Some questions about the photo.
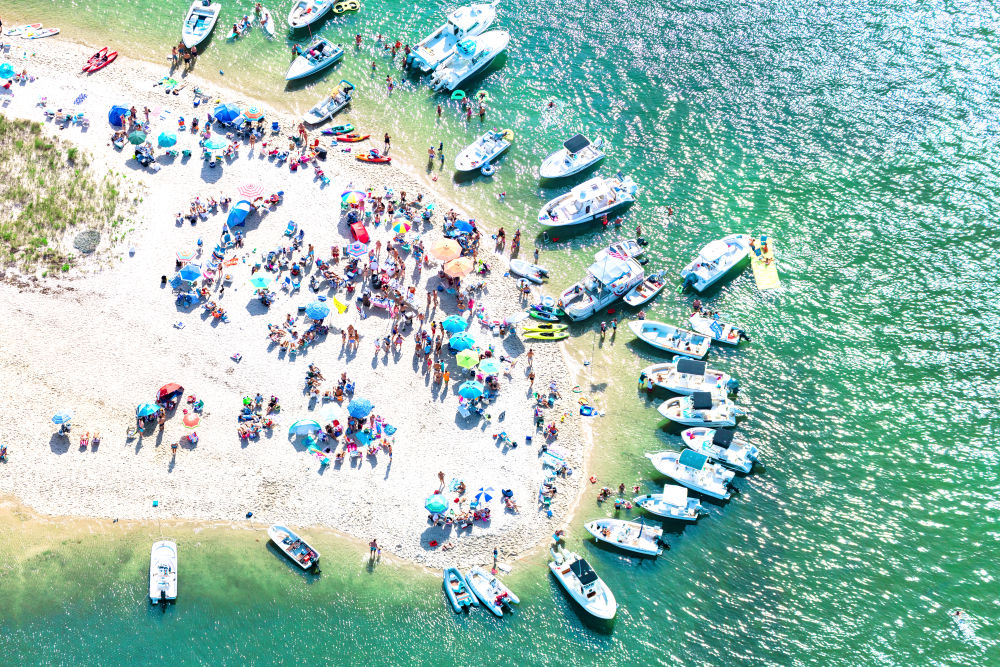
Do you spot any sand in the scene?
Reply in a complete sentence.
Yes, there's sand in this view.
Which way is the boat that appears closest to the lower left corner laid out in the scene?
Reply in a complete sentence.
I'd say the boat that appears closest to the lower left corner is aligned up and down in the picture.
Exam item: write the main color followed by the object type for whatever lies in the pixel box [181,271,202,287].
blue umbrella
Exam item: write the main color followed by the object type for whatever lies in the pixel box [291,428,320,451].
blue tent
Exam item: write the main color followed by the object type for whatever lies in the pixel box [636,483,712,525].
white boat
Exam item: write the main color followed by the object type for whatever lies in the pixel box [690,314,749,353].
white boat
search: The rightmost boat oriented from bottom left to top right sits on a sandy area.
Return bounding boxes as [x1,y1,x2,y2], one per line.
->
[680,238,750,300]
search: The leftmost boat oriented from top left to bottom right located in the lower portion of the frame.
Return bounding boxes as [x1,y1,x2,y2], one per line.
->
[267,522,324,577]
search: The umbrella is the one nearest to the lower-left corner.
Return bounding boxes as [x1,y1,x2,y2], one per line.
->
[53,412,73,427]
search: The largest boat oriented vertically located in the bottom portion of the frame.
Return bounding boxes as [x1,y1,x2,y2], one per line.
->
[148,540,179,615]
